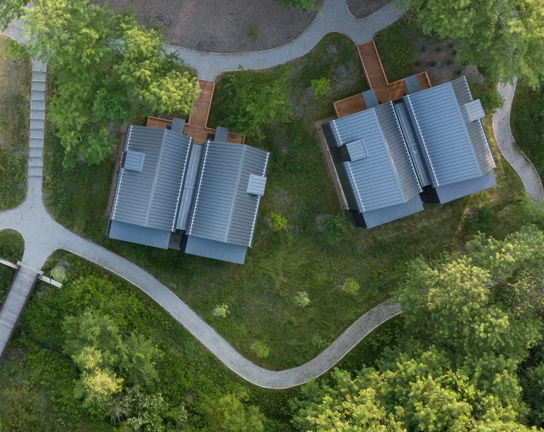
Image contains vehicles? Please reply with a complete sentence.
No, the photo shows no vehicle.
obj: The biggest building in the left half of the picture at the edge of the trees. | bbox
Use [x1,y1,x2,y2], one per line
[107,118,270,262]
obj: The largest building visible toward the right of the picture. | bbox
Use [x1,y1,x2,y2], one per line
[316,74,498,228]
